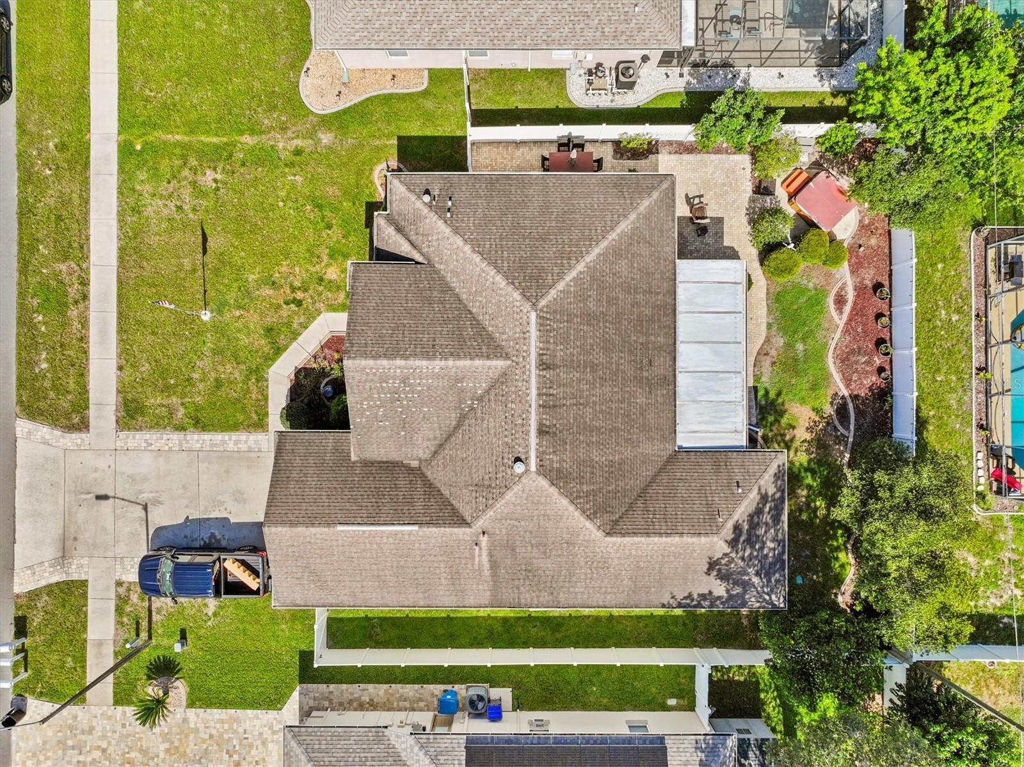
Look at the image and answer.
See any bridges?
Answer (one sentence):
No, no bridge is visible in the view.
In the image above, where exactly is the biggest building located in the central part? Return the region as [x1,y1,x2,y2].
[261,171,788,610]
